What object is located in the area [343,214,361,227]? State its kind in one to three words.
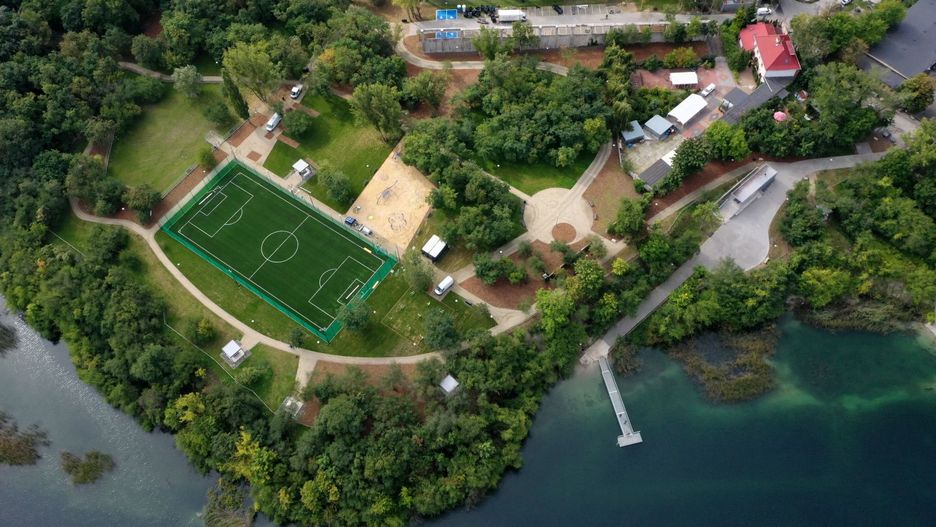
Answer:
vehicle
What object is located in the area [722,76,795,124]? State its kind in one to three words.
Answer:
building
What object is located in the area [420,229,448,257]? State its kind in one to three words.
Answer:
building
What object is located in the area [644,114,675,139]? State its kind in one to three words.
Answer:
shed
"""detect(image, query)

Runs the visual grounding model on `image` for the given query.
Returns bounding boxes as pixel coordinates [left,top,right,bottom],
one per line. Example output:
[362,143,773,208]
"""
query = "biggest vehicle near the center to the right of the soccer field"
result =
[434,272,454,294]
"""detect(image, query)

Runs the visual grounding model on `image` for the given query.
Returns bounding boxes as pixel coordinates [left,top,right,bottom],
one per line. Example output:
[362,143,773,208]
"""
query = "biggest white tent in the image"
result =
[667,94,707,130]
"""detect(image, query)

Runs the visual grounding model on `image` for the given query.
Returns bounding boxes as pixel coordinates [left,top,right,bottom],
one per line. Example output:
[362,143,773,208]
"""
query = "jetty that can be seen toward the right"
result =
[599,356,644,448]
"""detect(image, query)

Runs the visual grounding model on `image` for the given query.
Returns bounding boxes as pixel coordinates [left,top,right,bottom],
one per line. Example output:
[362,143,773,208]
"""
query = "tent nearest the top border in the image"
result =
[668,72,697,90]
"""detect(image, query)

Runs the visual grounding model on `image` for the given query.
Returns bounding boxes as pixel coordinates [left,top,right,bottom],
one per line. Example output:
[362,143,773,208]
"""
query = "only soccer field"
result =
[168,163,392,336]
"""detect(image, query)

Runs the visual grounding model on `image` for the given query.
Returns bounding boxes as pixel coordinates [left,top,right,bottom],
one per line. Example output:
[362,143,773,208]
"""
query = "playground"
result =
[346,140,436,252]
